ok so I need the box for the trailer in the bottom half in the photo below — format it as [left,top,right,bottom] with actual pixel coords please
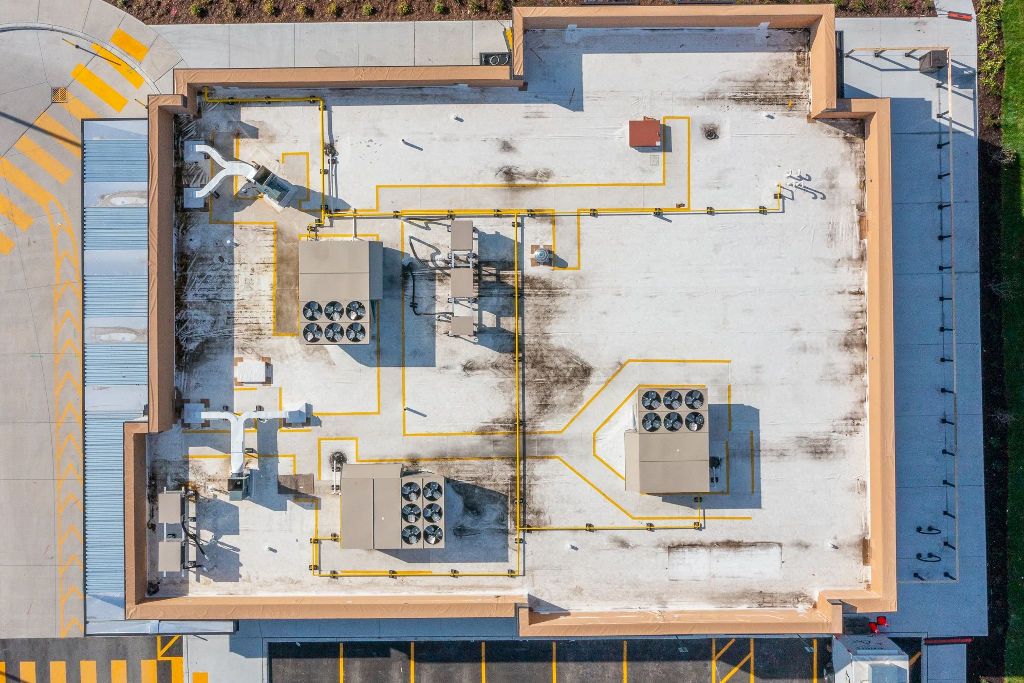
[821,634,909,683]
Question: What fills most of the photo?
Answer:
buildings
